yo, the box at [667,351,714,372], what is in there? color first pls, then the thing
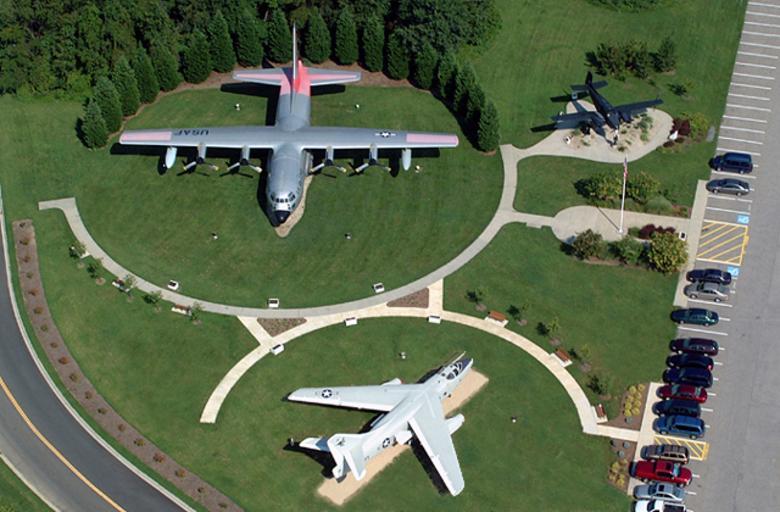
black car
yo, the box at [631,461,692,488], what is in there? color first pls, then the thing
red truck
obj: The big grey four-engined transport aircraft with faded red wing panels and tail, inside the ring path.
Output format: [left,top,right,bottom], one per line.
[120,24,456,222]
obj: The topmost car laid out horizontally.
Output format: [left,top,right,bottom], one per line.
[708,153,753,175]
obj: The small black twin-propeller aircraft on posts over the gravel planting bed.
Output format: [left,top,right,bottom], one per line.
[548,71,661,155]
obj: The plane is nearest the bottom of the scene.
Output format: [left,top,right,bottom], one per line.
[284,353,473,493]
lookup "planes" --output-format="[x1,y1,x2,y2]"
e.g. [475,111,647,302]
[548,71,661,155]
[120,24,456,222]
[284,353,473,493]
